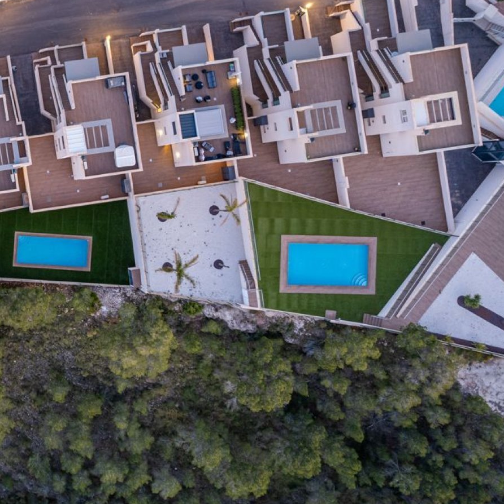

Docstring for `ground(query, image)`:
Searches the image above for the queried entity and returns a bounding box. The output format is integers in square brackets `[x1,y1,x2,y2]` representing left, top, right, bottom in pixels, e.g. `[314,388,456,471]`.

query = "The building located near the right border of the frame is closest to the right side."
[362,29,482,156]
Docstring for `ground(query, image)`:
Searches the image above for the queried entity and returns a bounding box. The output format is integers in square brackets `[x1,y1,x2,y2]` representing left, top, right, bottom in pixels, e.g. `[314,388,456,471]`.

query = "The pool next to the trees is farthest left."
[13,232,93,272]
